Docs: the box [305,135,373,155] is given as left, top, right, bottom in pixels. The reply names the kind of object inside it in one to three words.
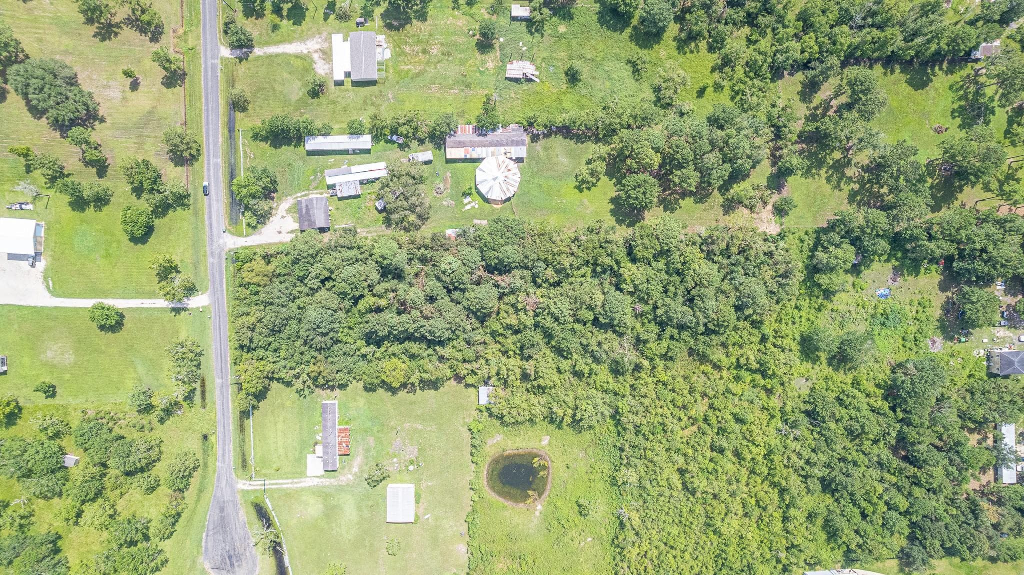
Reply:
house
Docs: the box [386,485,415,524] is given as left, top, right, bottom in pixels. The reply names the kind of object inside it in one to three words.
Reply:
building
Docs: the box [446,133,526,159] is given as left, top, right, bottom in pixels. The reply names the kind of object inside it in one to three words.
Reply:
barn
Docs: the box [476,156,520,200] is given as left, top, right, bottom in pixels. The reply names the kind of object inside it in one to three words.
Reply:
shed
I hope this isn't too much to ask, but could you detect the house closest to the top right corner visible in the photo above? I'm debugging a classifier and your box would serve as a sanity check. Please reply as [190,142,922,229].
[970,41,1001,59]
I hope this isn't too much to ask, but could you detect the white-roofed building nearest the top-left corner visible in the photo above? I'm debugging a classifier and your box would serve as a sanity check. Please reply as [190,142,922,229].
[0,218,46,254]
